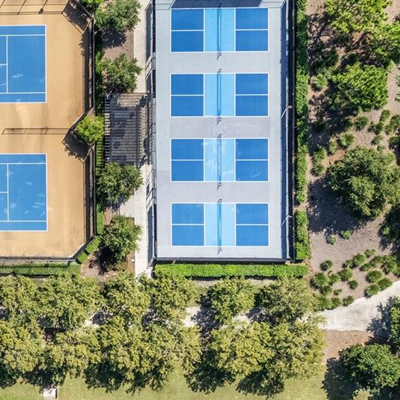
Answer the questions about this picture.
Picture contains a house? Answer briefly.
No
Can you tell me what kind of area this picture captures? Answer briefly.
sports ground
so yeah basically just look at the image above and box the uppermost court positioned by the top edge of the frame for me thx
[152,0,287,62]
